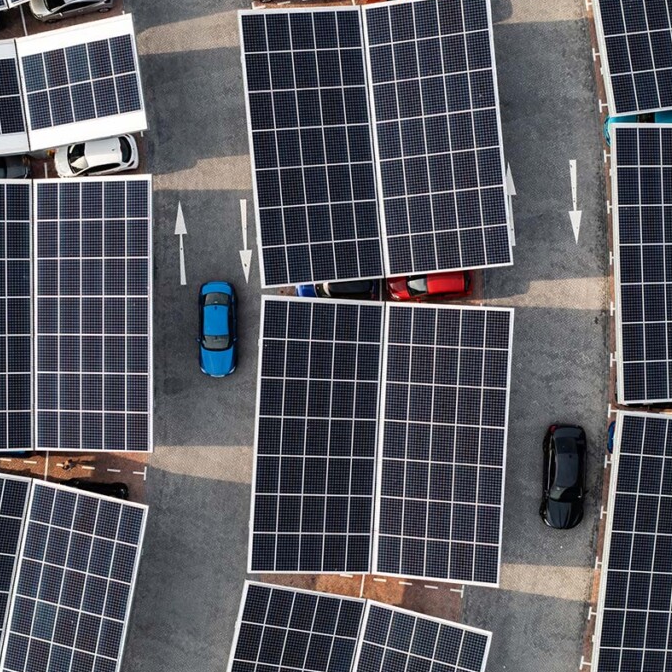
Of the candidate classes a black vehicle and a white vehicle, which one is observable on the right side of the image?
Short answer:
black vehicle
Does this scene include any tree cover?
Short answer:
No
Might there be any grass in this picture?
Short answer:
No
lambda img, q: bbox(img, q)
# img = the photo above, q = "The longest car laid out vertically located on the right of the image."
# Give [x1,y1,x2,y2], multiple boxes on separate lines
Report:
[543,424,590,529]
